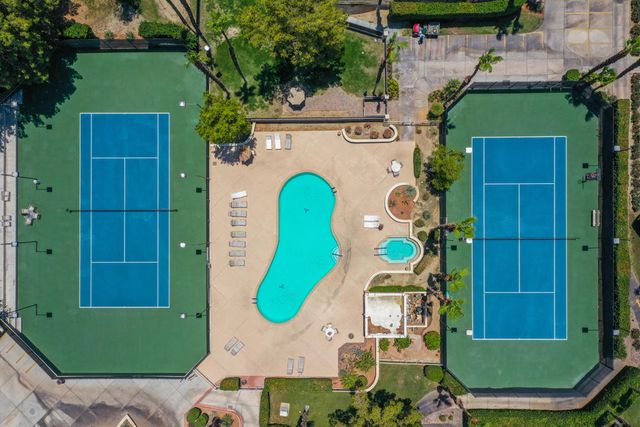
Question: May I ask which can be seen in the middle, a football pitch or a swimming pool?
swimming pool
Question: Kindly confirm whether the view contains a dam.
No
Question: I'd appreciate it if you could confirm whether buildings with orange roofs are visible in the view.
No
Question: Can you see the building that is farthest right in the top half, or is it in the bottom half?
bottom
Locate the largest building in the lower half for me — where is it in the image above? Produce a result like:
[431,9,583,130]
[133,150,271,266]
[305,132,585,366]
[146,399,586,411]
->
[362,288,408,339]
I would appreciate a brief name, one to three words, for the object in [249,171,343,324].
swimming pool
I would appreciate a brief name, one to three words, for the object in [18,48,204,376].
tennis court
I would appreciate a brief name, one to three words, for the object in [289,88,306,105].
umbrella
